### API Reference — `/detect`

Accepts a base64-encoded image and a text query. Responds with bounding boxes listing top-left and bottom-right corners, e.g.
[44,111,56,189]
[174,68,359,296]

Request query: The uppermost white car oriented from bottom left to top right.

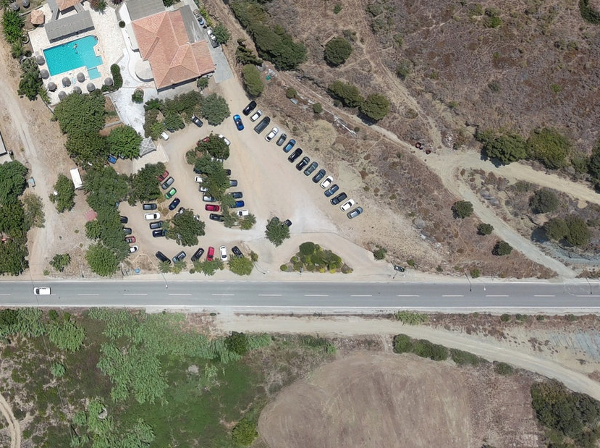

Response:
[250,107,263,123]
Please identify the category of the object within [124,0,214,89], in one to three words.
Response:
building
